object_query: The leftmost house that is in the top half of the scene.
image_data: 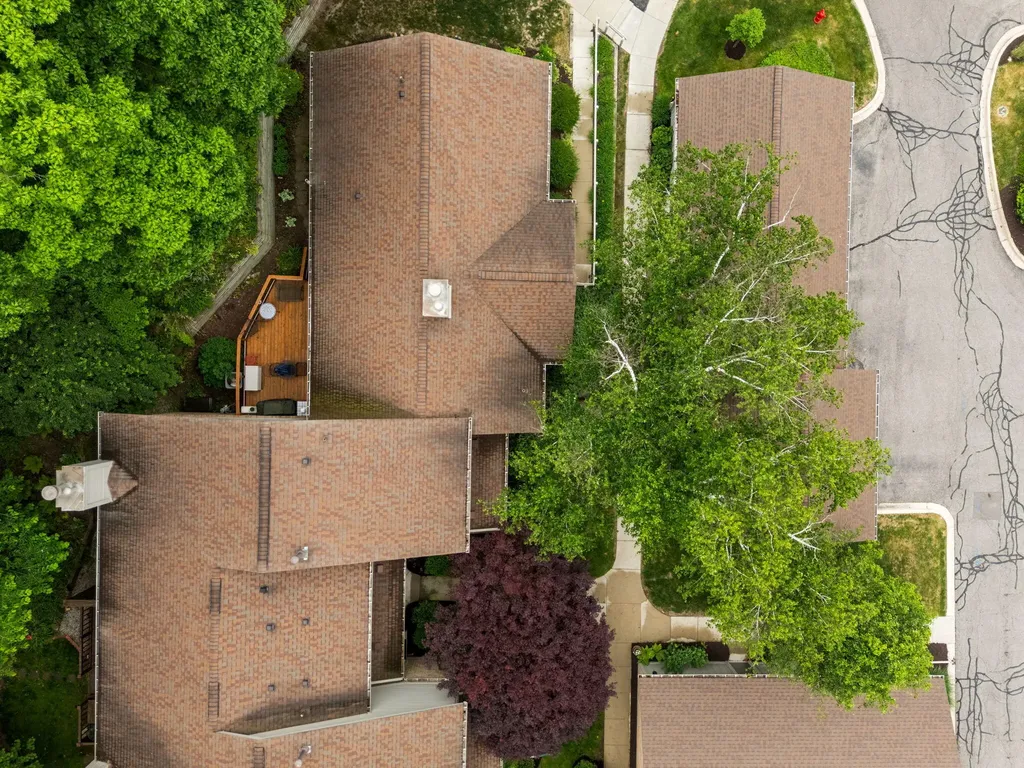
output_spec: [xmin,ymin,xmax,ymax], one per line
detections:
[306,33,574,437]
